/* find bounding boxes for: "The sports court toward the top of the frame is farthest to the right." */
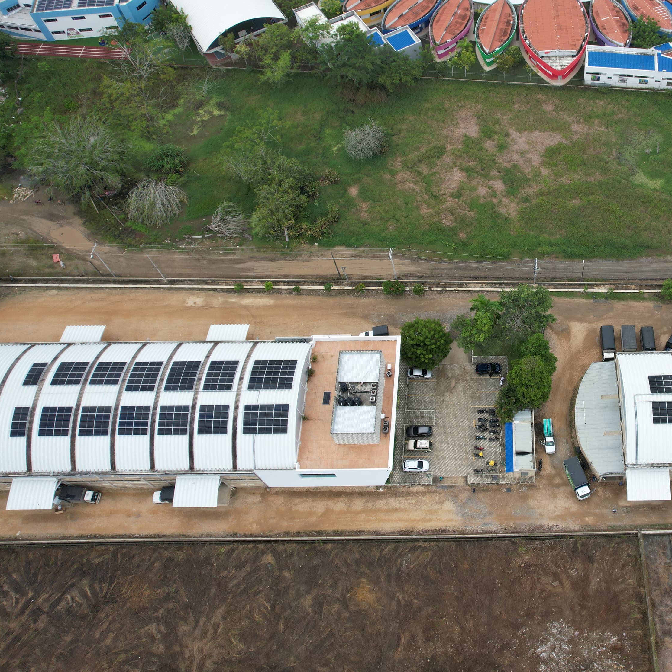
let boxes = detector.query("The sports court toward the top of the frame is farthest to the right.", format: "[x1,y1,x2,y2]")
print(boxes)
[169,1,280,66]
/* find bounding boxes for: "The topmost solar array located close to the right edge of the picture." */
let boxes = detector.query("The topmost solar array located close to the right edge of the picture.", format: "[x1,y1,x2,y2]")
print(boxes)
[648,374,672,392]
